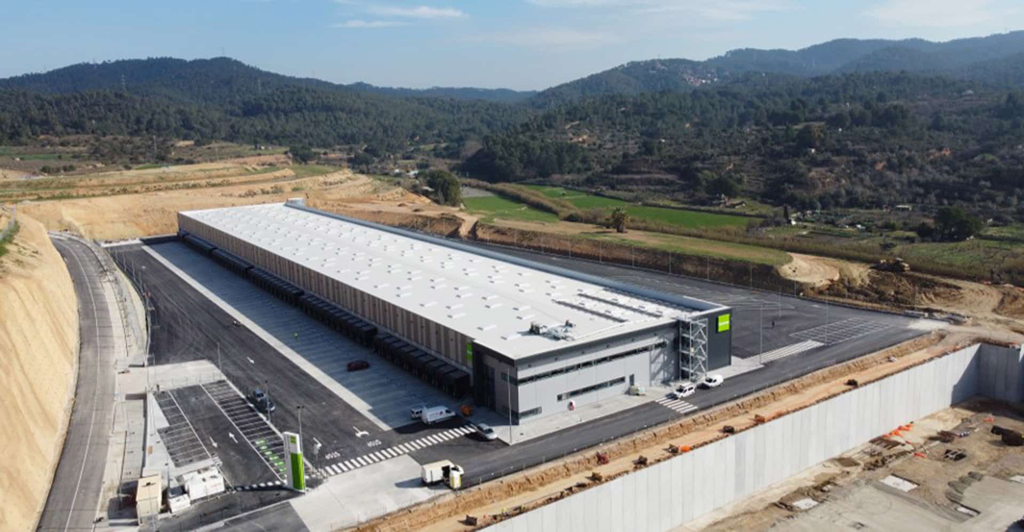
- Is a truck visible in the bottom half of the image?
Yes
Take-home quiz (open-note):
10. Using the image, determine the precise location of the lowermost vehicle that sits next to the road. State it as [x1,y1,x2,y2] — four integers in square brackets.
[417,446,468,481]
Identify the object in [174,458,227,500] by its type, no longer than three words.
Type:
building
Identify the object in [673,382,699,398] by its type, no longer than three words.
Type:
vehicle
